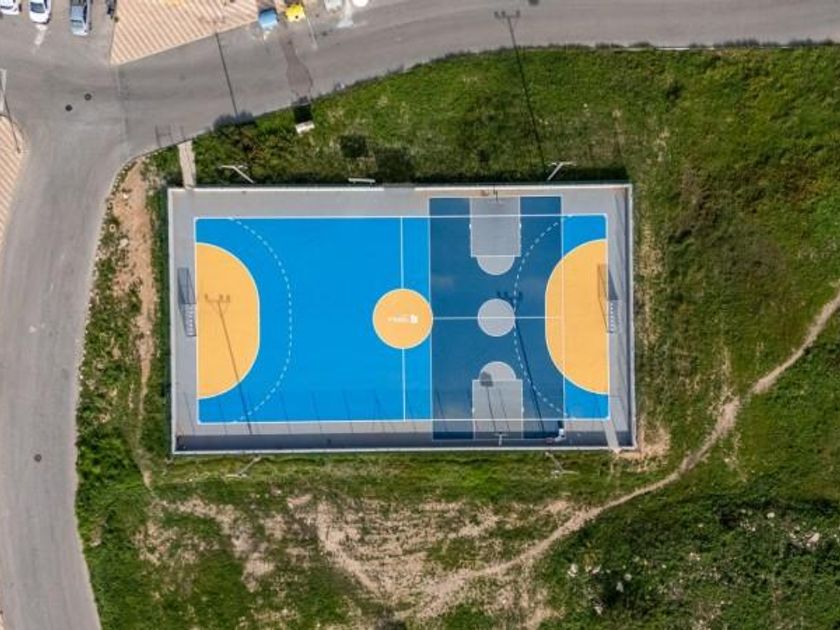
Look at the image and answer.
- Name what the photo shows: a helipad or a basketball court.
basketball court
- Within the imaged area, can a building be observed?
No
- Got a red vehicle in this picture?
No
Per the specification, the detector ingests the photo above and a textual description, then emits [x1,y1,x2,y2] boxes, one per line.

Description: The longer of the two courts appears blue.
[195,215,610,424]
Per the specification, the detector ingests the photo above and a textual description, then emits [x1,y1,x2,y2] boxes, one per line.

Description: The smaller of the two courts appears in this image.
[430,196,564,441]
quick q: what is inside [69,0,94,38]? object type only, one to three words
truck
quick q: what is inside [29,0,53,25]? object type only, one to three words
car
